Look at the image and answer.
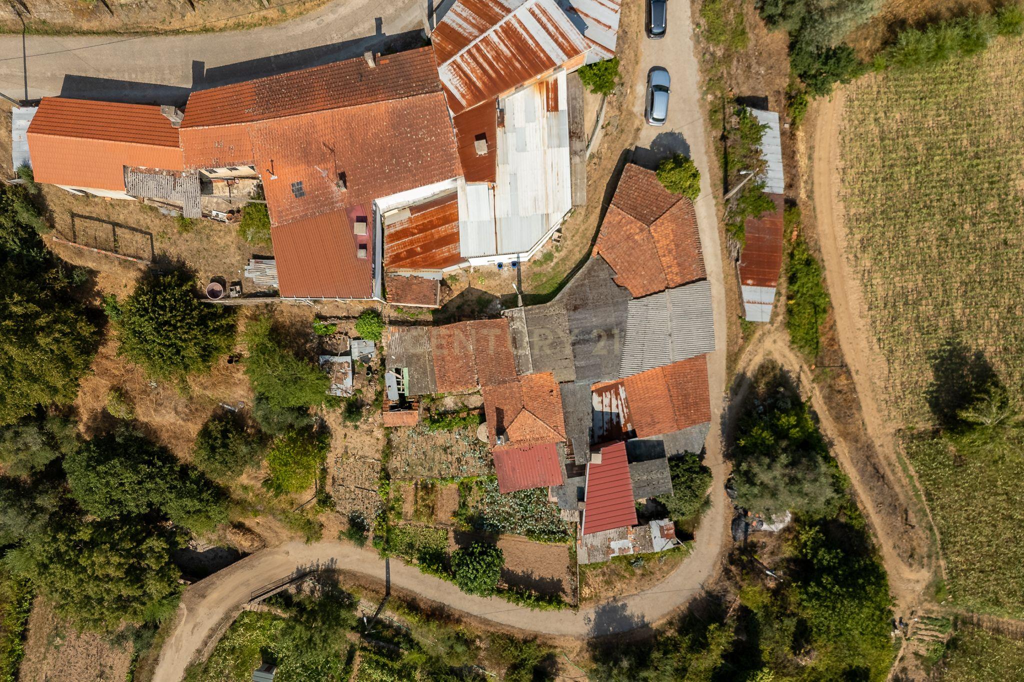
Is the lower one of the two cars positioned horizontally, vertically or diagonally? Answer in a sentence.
The lower one of the two cars is laid out vertically.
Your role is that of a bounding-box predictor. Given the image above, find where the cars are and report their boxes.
[642,66,674,128]
[642,0,670,37]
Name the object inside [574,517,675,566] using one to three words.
shed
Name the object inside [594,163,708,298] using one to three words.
house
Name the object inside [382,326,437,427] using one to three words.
shed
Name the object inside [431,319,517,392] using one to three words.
house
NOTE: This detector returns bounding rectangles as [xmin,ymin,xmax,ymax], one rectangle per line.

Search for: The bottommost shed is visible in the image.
[252,653,287,682]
